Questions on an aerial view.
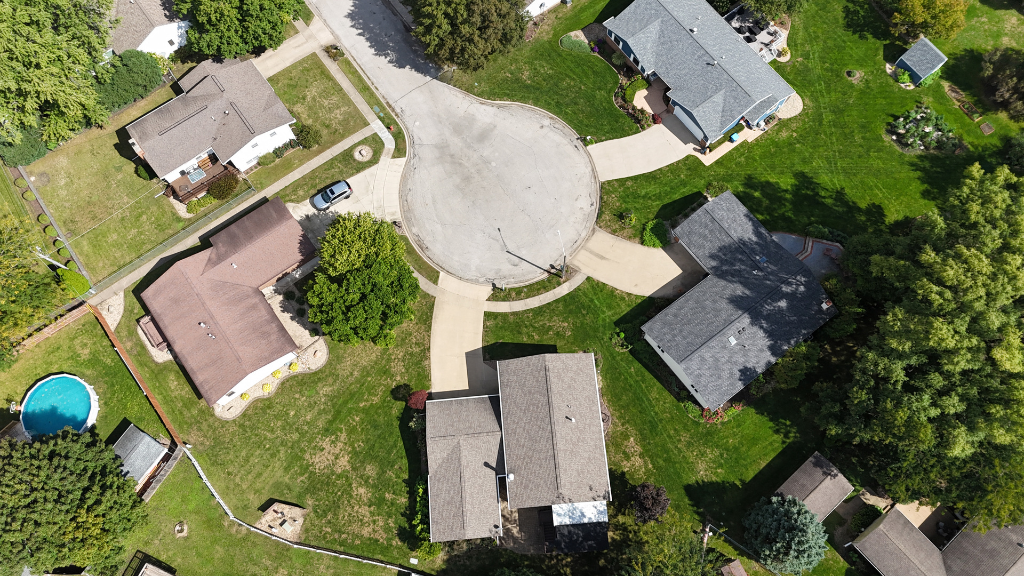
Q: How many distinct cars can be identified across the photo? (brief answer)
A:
1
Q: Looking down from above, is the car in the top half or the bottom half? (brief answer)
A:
top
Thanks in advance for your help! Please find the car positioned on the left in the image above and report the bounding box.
[314,182,354,211]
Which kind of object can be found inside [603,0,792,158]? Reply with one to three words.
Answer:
house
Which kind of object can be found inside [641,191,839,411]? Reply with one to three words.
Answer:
house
